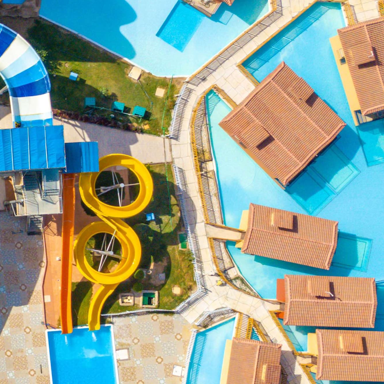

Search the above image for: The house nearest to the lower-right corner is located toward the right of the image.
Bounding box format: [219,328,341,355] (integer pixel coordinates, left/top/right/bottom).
[305,329,384,382]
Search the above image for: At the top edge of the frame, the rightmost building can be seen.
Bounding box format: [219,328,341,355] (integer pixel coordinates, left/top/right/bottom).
[330,14,384,128]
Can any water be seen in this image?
Yes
